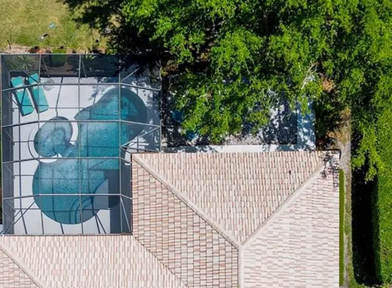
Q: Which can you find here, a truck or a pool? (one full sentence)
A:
Of the two, only a pool appears.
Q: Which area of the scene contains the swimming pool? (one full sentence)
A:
You can find the swimming pool in the left area of the picture.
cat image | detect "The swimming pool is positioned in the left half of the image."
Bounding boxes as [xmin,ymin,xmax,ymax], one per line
[27,84,152,228]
